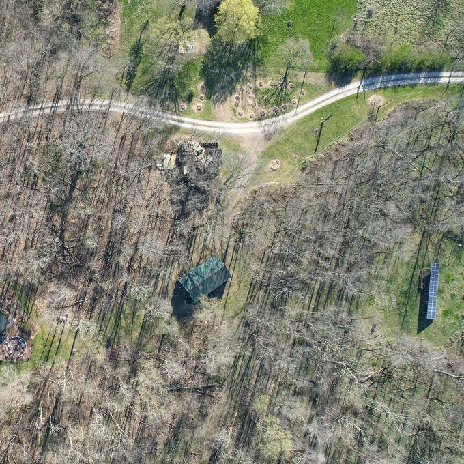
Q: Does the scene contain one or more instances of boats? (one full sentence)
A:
No, the photo shows no boat.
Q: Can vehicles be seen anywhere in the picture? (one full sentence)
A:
No, I can't see a single vehicle in this photo.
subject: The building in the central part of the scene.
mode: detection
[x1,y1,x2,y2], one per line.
[176,253,230,303]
